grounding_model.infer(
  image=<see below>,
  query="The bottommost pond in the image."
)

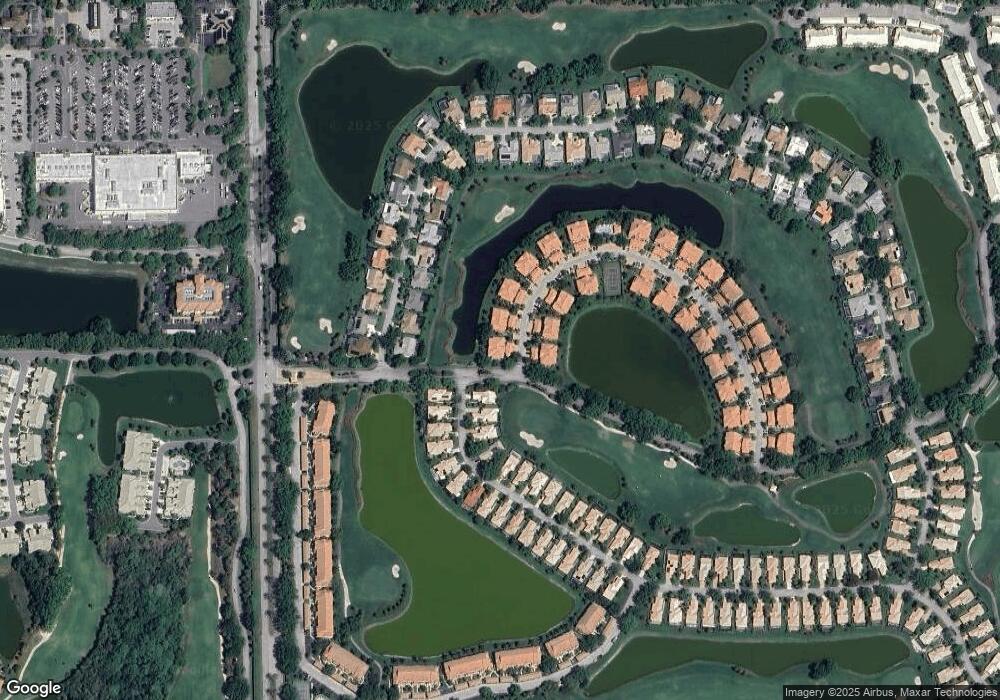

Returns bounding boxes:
[590,635,909,695]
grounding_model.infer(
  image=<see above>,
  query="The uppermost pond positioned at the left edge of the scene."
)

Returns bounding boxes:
[0,266,139,336]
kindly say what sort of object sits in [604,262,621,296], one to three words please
tennis court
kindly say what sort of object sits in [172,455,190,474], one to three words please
swimming pool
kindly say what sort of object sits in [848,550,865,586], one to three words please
house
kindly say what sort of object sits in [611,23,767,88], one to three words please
pond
